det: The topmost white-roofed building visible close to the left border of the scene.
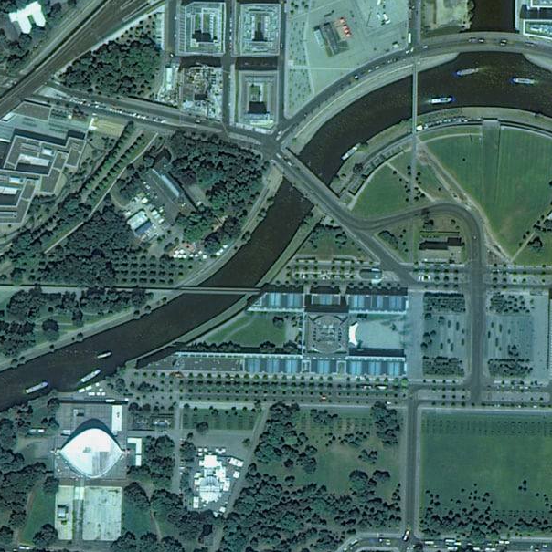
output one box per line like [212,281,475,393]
[9,1,46,33]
